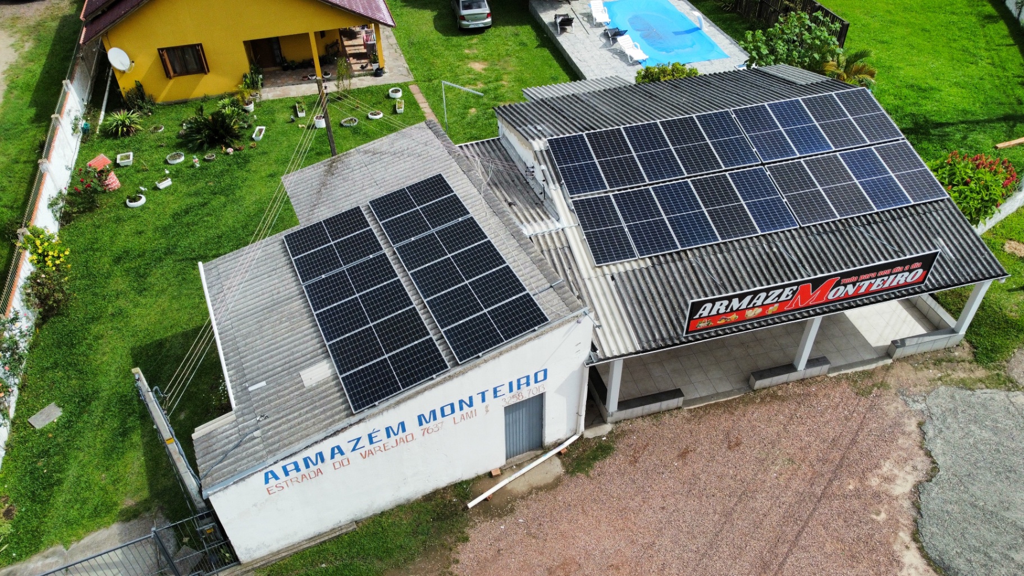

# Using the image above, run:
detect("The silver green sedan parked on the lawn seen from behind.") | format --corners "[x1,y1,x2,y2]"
[457,0,497,27]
